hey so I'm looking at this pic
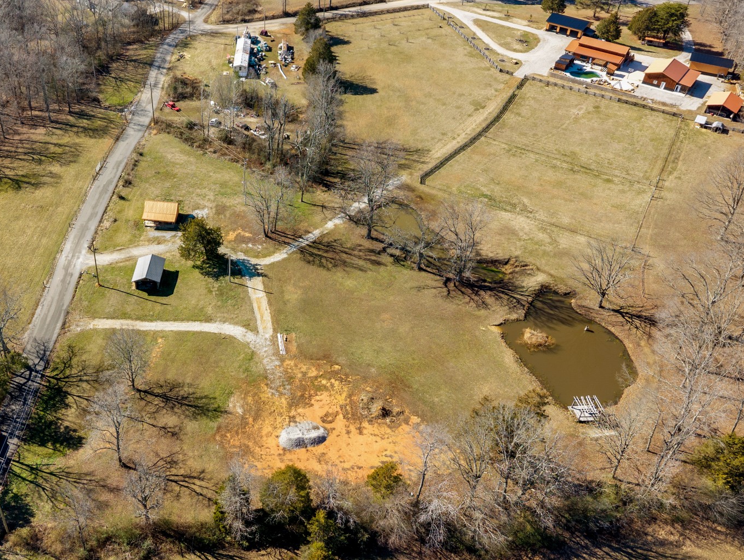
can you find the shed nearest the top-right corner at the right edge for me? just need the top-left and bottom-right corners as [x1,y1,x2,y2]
[688,52,734,75]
